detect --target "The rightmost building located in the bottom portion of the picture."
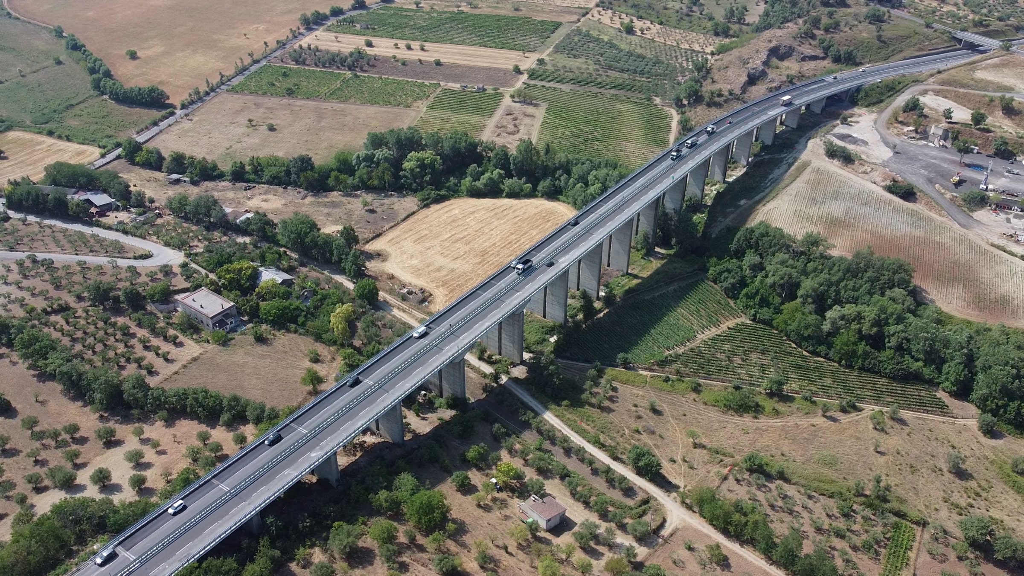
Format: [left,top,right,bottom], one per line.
[521,488,565,527]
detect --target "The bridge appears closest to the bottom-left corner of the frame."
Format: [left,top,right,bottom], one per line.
[96,75,870,576]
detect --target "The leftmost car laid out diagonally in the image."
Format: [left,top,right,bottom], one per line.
[95,548,116,565]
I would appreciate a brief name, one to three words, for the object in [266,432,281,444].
vehicle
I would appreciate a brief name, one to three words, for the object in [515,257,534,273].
vehicle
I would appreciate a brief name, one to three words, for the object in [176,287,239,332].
house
